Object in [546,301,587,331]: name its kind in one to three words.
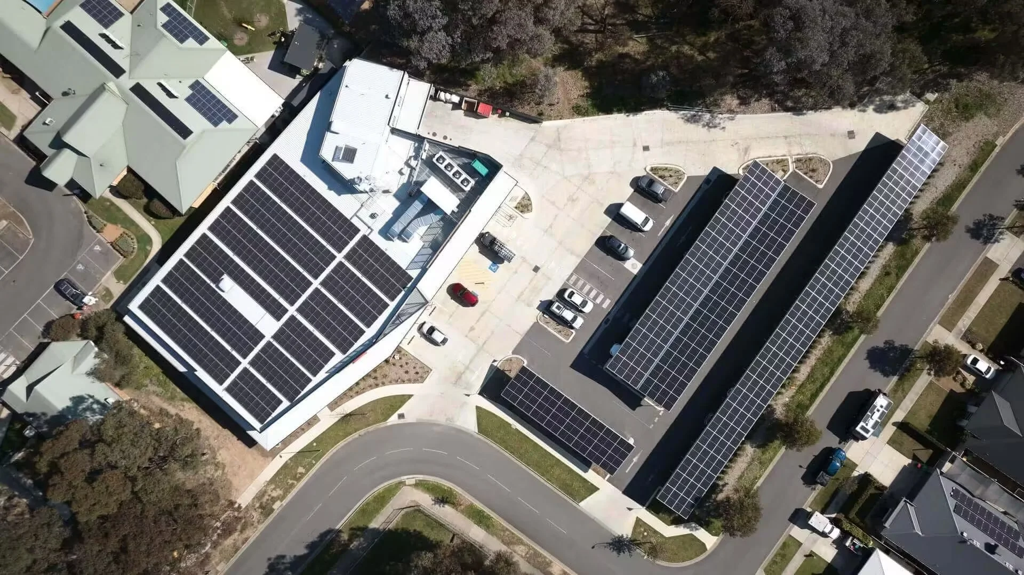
truck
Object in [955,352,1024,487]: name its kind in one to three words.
house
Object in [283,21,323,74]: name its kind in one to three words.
shed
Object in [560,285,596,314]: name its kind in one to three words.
car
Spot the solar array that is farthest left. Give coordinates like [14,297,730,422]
[73,0,124,28]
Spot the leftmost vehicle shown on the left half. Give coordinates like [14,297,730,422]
[52,278,92,311]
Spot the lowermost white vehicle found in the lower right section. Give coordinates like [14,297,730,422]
[802,507,843,539]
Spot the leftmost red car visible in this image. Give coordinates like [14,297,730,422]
[448,282,481,309]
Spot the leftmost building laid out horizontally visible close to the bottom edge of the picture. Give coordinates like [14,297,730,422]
[849,546,916,575]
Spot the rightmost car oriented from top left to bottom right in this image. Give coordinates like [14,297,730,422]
[960,352,997,380]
